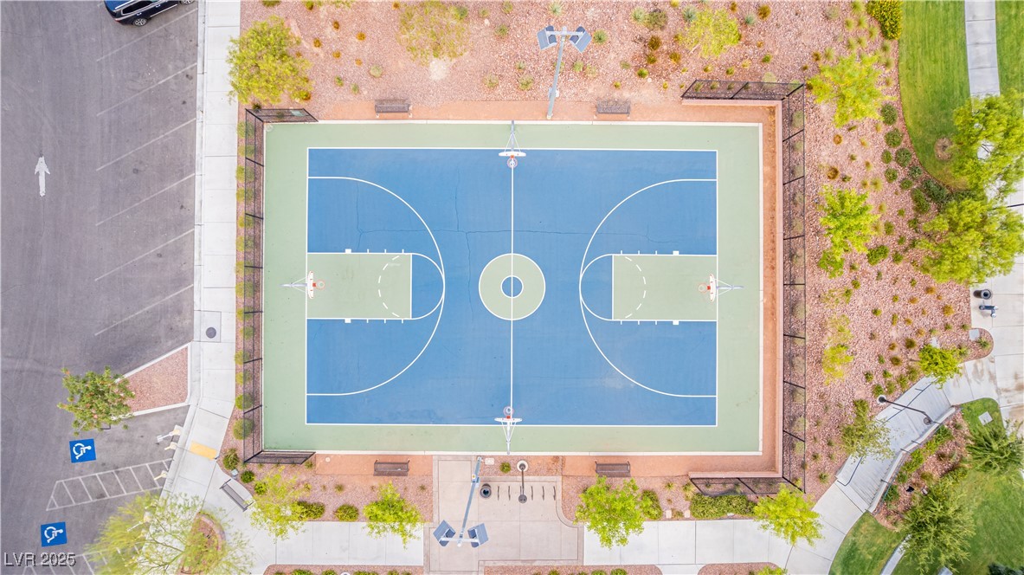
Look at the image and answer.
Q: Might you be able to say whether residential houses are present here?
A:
No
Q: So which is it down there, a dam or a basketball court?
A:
basketball court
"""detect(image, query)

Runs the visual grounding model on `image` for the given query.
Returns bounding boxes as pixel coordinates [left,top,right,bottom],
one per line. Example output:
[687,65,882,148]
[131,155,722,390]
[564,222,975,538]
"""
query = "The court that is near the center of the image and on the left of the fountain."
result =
[261,119,764,456]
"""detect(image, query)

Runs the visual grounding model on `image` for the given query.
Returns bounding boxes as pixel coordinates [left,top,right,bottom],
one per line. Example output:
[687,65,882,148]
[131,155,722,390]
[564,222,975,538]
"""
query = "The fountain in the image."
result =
[976,305,1012,321]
